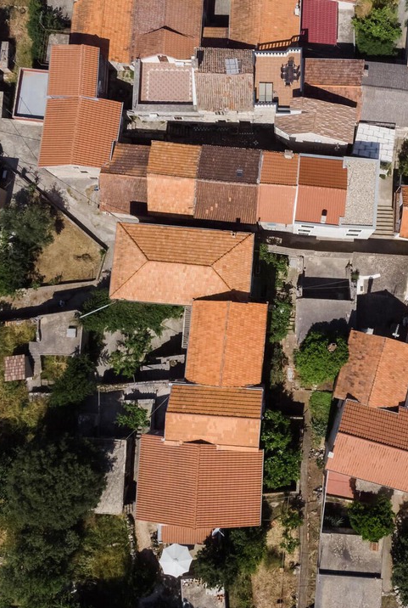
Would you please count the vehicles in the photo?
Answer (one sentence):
The photo contains no vehicles.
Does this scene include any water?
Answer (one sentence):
No, water can't be seen anywhere here.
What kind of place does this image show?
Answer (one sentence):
What you see here is a residential area.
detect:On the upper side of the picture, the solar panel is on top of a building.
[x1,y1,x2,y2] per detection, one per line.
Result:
[224,59,240,73]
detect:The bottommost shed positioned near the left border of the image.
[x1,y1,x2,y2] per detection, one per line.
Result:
[4,354,32,382]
